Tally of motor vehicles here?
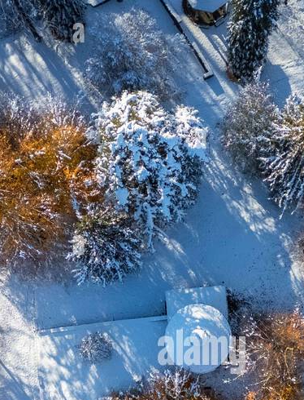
0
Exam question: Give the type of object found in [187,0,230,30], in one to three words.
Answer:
house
